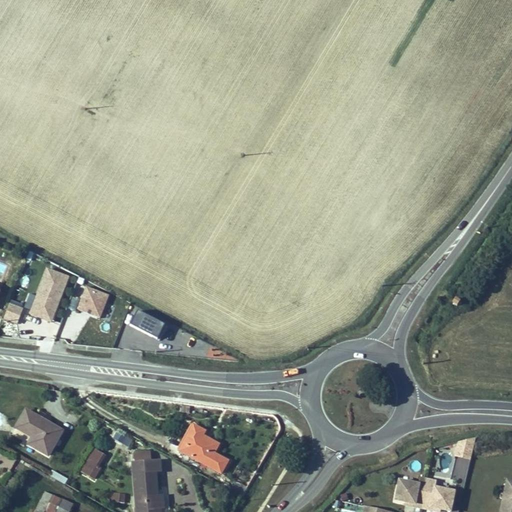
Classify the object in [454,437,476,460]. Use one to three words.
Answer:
building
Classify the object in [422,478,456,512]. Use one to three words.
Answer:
house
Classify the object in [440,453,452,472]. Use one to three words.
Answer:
swimming pool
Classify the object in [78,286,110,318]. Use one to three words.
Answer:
house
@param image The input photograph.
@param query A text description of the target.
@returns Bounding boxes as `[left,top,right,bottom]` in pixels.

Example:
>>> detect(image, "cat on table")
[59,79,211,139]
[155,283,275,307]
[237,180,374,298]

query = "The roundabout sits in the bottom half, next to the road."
[302,340,416,454]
